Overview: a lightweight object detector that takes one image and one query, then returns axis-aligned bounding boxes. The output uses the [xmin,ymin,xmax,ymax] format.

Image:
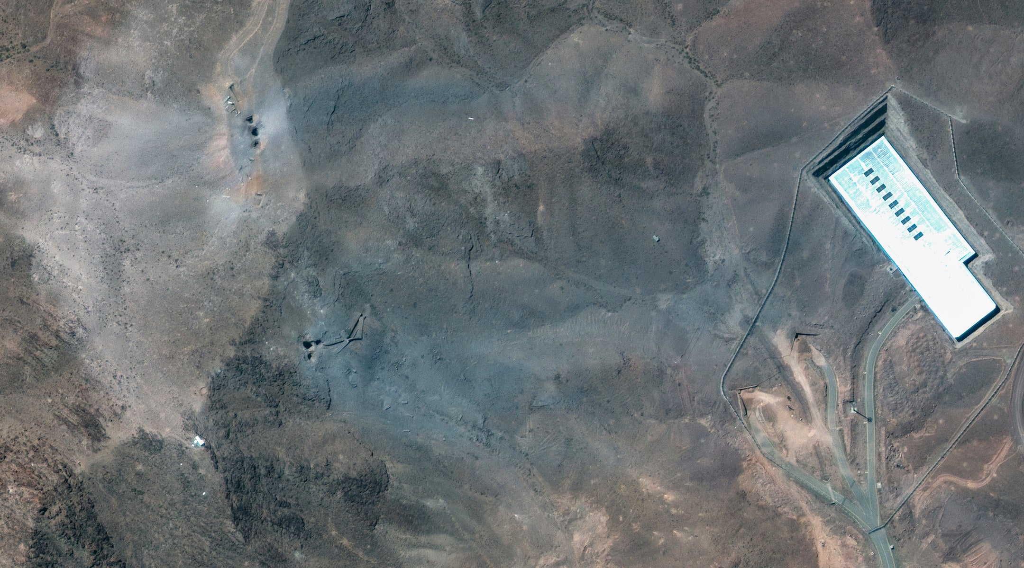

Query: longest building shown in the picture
[828,135,996,340]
